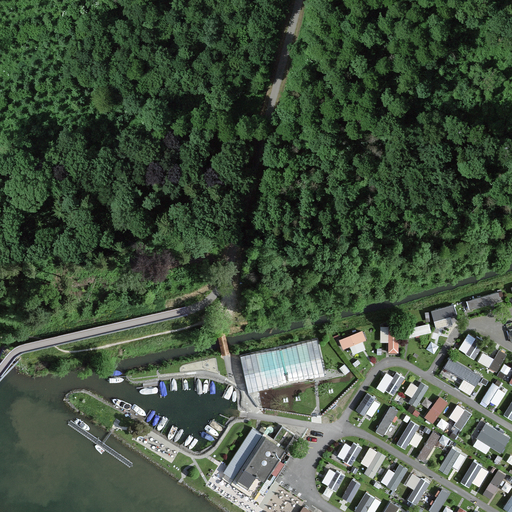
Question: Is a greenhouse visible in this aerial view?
Yes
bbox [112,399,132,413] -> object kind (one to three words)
boat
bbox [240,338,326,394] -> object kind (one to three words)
greenhouse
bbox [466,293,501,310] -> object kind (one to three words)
shed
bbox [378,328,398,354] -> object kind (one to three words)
house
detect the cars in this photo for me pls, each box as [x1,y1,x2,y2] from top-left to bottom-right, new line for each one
[307,436,318,442]
[310,430,324,437]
